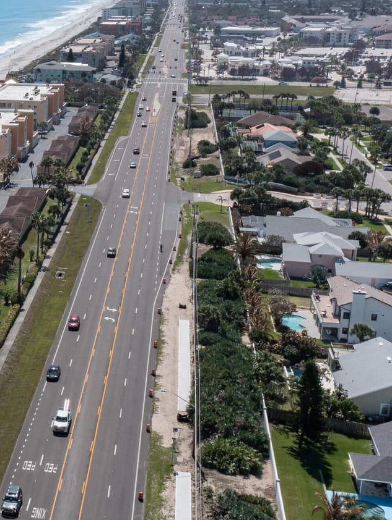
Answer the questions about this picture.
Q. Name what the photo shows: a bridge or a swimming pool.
swimming pool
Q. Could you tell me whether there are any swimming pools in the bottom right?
Yes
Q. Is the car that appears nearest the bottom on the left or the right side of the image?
left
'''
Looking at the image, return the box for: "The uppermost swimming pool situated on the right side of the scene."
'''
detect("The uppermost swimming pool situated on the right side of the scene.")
[257,256,281,272]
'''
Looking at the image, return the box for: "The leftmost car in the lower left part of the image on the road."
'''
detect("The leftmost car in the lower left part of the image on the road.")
[2,483,23,513]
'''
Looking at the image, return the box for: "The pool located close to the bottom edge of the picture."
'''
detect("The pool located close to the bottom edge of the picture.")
[327,490,392,520]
